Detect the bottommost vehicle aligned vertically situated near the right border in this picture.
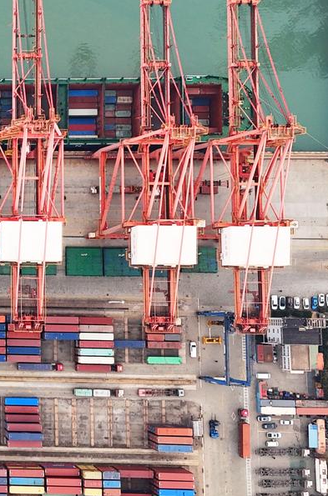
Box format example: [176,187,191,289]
[313,458,327,496]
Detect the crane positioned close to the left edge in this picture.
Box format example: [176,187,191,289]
[0,0,65,337]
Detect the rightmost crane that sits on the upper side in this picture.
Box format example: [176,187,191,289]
[169,0,319,339]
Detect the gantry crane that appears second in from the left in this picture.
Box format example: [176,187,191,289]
[79,0,219,338]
